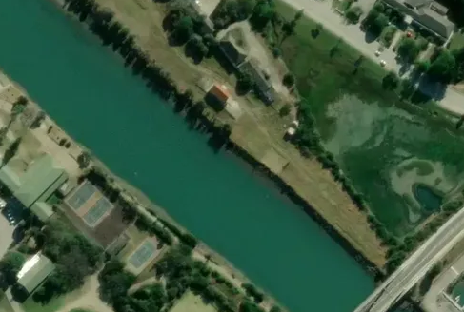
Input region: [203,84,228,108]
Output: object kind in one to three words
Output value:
house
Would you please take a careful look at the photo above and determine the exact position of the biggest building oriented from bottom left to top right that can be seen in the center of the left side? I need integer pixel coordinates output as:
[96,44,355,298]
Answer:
[14,154,66,203]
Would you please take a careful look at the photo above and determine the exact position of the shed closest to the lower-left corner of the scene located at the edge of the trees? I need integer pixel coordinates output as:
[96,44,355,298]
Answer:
[17,254,54,292]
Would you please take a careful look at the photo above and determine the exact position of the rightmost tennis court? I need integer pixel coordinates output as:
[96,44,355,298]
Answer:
[123,235,161,277]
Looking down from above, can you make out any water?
Yes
